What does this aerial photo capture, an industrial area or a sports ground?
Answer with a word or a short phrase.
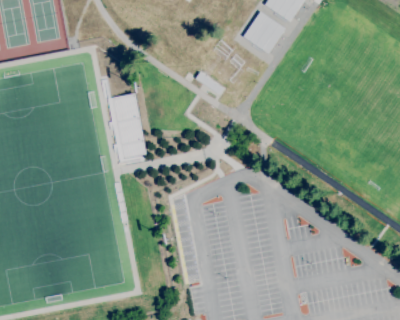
sports ground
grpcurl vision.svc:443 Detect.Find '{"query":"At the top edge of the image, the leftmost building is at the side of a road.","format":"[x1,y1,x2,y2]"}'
[244,12,284,53]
